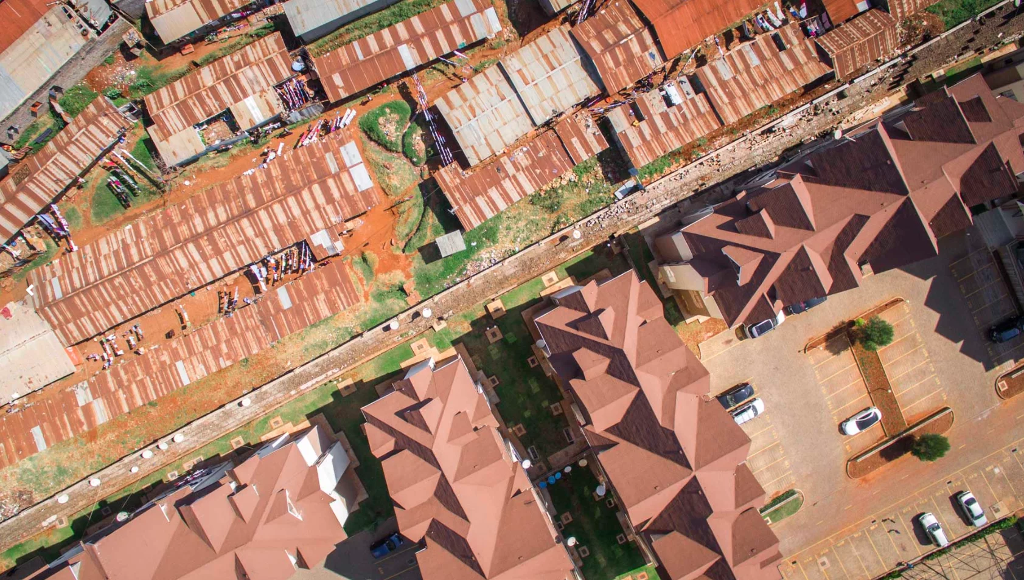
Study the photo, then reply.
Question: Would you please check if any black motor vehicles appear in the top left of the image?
No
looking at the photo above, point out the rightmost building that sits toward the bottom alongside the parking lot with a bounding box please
[535,269,783,580]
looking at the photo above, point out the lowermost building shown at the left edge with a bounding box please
[13,429,362,580]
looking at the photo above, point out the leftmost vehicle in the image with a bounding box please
[365,530,406,561]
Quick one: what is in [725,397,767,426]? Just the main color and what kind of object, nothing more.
white car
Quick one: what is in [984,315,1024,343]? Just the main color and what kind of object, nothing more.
black car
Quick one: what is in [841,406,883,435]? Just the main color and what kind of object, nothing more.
white car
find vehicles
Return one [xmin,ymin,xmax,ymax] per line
[365,530,406,561]
[713,382,755,412]
[984,315,1024,343]
[917,508,951,550]
[841,406,883,435]
[954,488,987,529]
[737,314,782,343]
[783,296,827,318]
[725,397,767,426]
